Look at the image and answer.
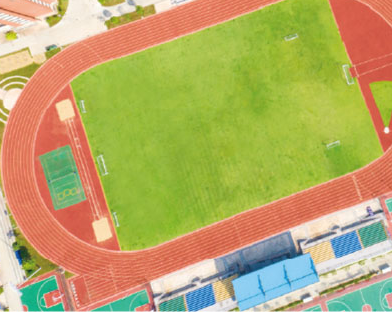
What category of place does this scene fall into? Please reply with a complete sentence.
This looks like a sports ground.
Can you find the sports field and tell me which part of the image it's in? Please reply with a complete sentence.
The sports field appears toward the center of the photo.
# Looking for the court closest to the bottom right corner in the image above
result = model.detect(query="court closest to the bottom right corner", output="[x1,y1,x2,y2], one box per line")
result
[318,274,392,312]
